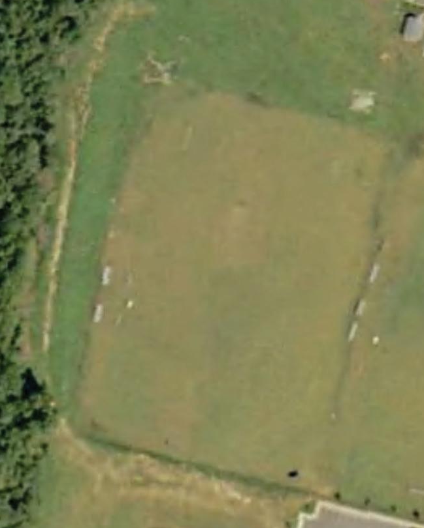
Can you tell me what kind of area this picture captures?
sports ground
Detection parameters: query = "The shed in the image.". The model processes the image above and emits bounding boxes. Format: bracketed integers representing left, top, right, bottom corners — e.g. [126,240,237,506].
[403,16,424,41]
